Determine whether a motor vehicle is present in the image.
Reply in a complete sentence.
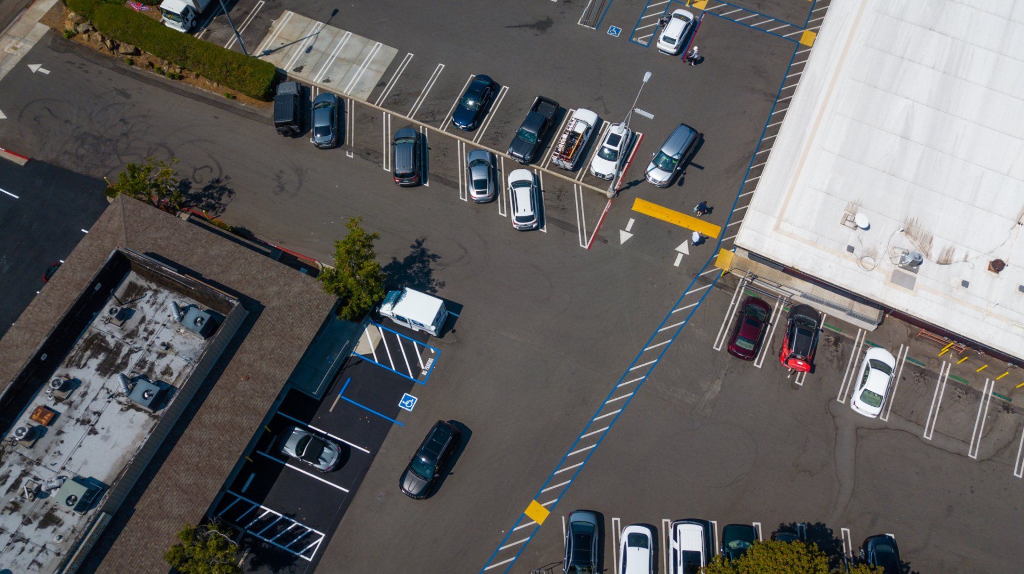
Yes, you can see a motor vehicle in this photo.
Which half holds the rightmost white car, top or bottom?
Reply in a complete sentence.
You can find the rightmost white car in the bottom half.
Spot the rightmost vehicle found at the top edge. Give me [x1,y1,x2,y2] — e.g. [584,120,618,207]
[654,10,693,57]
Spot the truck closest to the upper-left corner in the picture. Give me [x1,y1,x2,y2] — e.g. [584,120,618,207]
[157,0,212,34]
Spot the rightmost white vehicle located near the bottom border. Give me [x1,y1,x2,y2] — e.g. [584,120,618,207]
[668,521,709,574]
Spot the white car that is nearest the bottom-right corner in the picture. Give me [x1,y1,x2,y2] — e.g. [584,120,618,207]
[847,347,897,423]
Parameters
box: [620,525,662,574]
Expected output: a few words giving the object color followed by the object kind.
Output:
white car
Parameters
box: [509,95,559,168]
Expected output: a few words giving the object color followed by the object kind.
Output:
black truck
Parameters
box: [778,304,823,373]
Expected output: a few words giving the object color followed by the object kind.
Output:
black car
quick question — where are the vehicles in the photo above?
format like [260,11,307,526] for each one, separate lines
[847,347,897,423]
[509,95,559,168]
[456,75,493,132]
[463,151,496,205]
[277,426,345,473]
[727,295,772,364]
[654,10,693,57]
[668,521,709,574]
[592,122,633,184]
[272,82,304,138]
[562,511,604,574]
[859,535,907,574]
[389,127,423,189]
[157,0,212,34]
[40,263,62,286]
[778,304,823,373]
[720,525,756,558]
[506,171,539,232]
[403,419,459,503]
[648,123,698,190]
[551,109,597,175]
[620,525,662,574]
[309,94,341,151]
[377,287,448,337]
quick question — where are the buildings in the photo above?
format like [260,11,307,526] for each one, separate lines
[0,193,338,574]
[733,0,1024,369]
